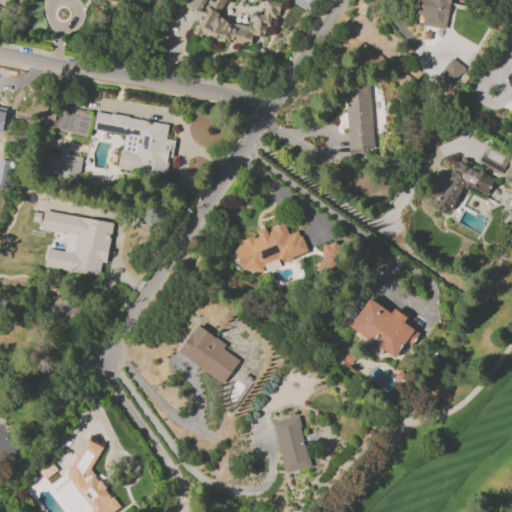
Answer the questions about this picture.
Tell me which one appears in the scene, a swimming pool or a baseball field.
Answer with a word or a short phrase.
swimming pool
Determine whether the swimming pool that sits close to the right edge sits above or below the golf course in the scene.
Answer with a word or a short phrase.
above it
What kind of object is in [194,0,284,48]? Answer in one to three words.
house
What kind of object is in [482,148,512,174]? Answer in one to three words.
building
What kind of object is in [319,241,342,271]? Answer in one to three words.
building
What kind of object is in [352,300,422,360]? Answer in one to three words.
house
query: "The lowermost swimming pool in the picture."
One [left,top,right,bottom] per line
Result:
[39,490,64,512]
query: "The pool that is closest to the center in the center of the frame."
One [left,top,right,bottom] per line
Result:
[275,268,294,282]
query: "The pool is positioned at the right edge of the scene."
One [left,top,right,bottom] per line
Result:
[460,210,488,234]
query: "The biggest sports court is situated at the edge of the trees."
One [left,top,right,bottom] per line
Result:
[58,110,92,136]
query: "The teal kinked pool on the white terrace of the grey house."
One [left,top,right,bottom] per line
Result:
[94,142,111,168]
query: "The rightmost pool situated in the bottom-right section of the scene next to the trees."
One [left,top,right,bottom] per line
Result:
[372,368,395,389]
